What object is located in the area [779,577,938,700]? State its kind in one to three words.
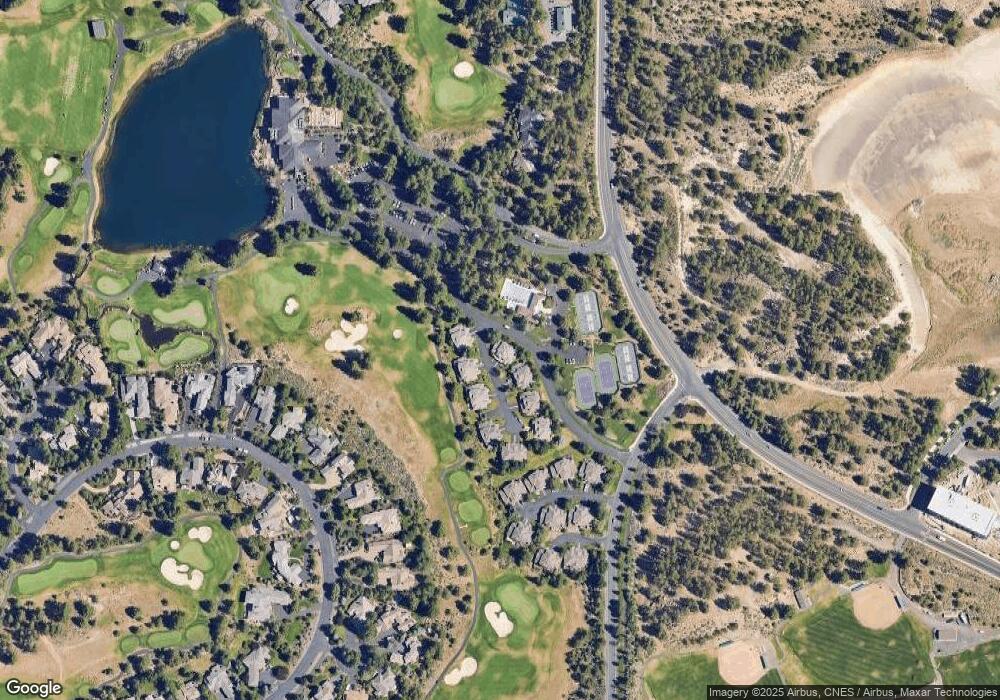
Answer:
baseball field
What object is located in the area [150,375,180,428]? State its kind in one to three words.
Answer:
house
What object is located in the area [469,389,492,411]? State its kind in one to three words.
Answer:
building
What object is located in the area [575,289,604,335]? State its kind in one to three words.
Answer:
tennis court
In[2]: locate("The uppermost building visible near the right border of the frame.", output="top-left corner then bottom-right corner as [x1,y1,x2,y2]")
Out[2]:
[927,487,996,539]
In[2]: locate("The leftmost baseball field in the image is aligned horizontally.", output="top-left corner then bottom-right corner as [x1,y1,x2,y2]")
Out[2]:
[642,638,802,700]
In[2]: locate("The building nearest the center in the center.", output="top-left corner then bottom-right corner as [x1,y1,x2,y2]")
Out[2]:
[488,340,518,368]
